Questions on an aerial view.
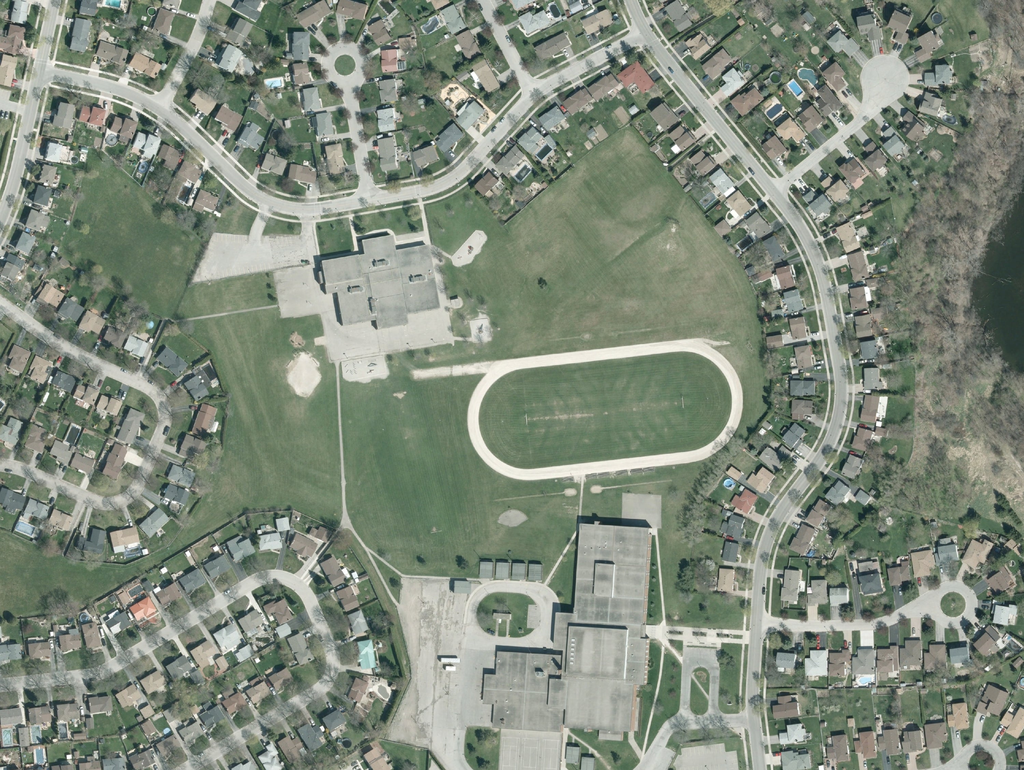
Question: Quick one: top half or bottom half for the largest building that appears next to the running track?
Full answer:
The largest building that appears next to the running track is in the bottom half of the image.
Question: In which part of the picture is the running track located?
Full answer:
The running track is located in the center region of the scene.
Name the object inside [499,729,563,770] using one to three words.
tennis court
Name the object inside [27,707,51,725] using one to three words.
house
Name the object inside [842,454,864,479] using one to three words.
house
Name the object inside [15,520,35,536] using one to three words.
swimming pool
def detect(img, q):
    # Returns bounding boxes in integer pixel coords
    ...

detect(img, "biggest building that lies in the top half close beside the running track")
[318,235,439,329]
